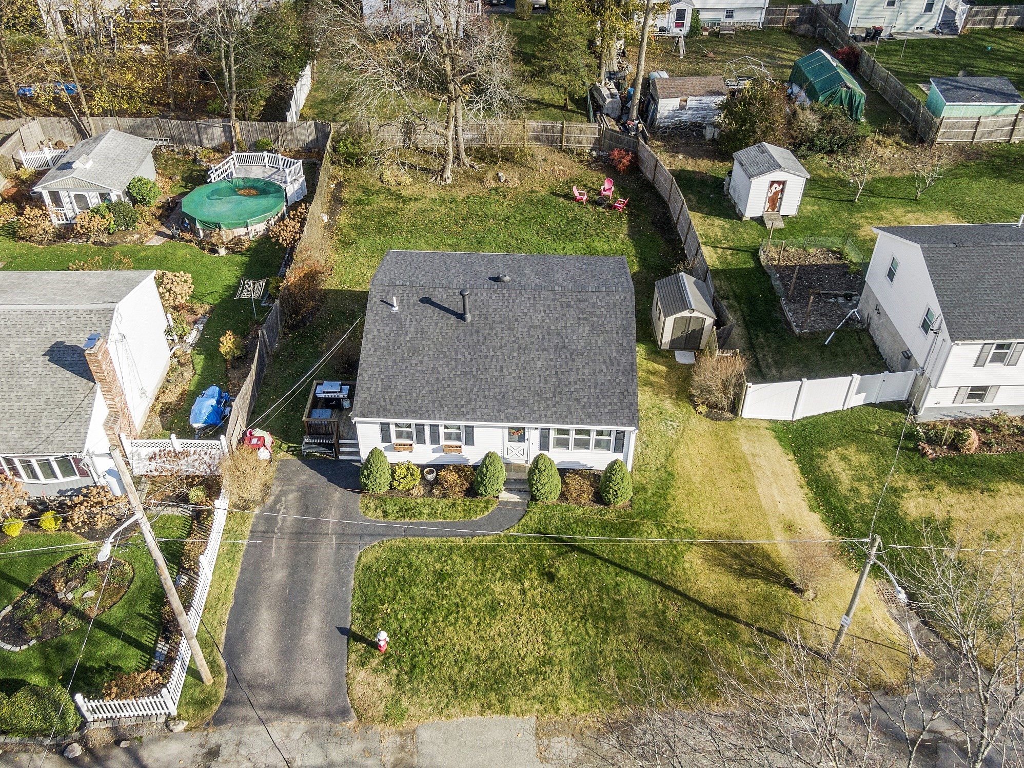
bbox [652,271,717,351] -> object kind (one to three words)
shed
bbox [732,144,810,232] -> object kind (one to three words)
shed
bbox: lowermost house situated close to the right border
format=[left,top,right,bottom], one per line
[858,218,1024,425]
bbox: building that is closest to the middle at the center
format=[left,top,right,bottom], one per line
[348,250,642,475]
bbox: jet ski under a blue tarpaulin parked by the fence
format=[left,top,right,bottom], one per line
[188,377,232,424]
